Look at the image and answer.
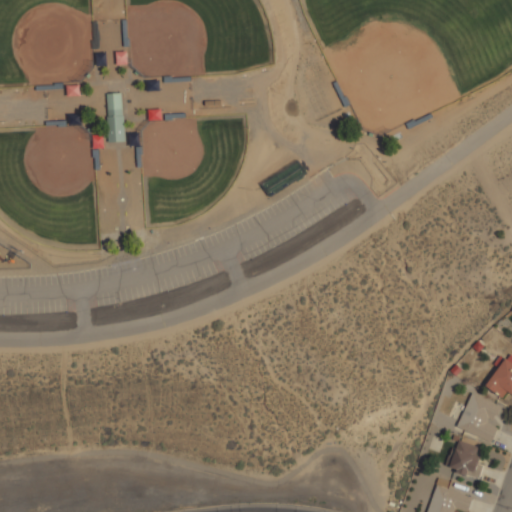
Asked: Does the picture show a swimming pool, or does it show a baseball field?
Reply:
baseball field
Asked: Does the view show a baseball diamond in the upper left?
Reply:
Yes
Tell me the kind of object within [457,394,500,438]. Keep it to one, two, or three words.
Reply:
house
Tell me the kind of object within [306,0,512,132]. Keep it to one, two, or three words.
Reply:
baseball field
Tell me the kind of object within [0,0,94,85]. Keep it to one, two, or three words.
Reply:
baseball field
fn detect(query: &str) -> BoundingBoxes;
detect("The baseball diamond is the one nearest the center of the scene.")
[142,118,243,222]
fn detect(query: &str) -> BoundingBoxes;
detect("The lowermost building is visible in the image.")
[426,484,468,512]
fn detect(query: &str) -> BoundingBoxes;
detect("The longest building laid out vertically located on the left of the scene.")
[106,92,126,142]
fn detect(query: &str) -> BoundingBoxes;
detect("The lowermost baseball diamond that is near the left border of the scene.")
[0,126,96,244]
